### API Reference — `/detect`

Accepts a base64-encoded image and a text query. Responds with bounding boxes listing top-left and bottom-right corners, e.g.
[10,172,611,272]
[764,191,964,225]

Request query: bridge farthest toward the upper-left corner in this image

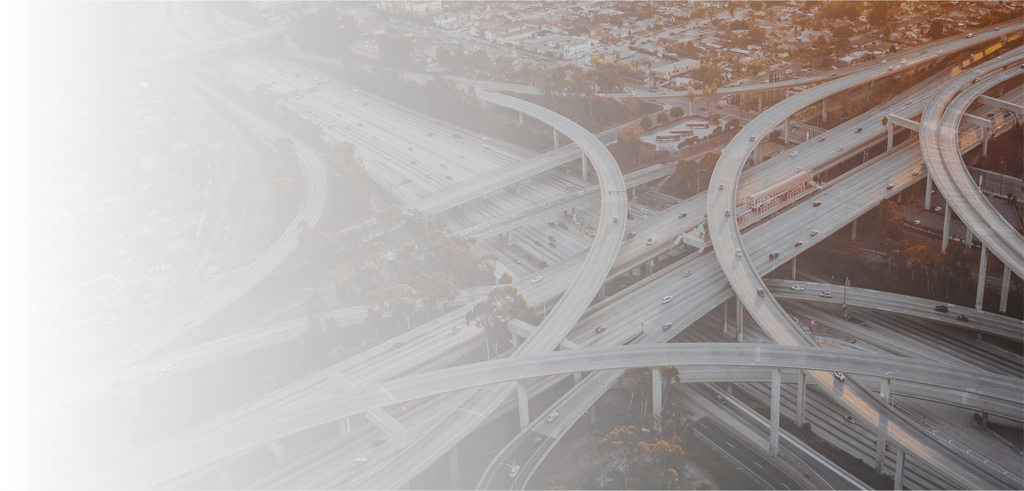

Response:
[0,23,310,103]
